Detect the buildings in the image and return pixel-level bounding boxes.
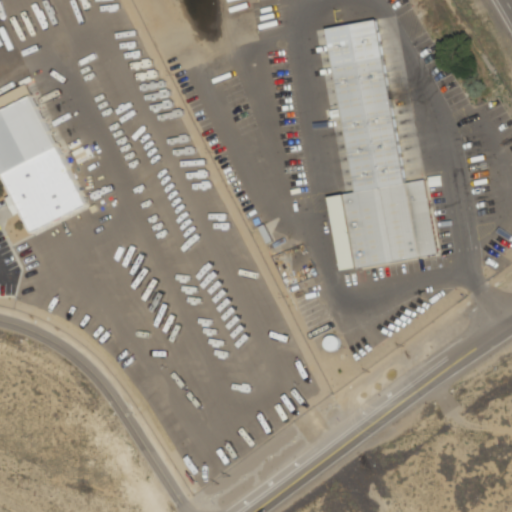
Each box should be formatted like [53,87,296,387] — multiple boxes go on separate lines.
[324,20,419,269]
[0,96,88,234]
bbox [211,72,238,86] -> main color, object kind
white vehicle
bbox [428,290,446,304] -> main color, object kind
white vehicle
